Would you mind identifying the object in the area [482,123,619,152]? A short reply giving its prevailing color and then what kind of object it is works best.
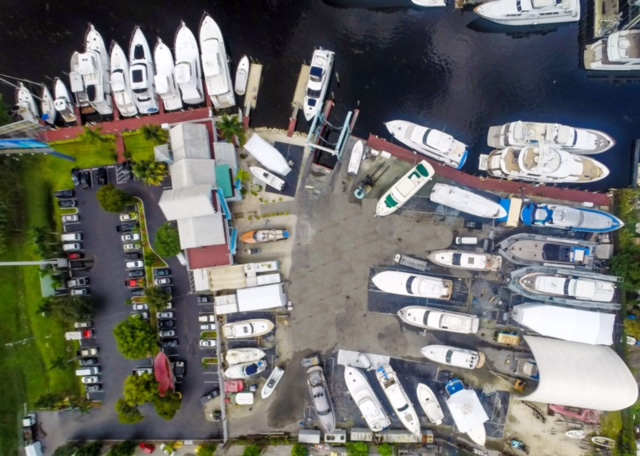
white boat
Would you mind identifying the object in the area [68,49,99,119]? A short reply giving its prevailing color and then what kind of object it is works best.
white boat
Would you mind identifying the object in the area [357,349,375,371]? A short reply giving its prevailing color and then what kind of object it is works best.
white vehicle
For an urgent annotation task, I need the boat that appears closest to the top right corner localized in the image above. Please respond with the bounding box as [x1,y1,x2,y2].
[576,35,640,71]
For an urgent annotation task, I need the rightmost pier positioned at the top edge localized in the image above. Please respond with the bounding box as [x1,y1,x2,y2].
[579,0,618,44]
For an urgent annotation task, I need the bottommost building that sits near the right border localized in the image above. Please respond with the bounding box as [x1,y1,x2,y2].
[518,335,638,412]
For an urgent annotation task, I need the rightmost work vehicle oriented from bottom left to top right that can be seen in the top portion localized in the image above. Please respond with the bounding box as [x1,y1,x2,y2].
[351,160,389,200]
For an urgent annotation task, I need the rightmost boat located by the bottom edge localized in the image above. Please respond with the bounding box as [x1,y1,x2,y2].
[592,435,616,449]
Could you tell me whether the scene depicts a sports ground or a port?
port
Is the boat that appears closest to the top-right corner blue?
No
